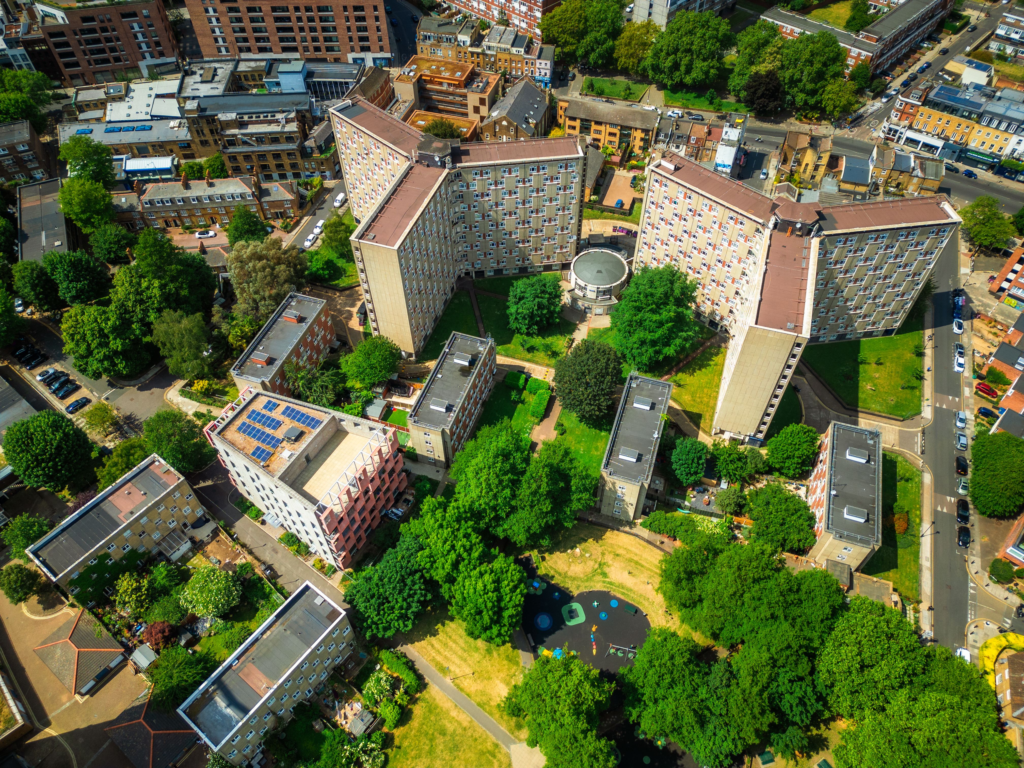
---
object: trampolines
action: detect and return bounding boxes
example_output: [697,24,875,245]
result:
[390,379,410,398]
[567,608,579,619]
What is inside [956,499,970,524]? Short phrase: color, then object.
black car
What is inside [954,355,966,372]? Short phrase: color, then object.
white vehicle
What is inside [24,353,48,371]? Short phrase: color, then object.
black car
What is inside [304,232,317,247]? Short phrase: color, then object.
white vehicle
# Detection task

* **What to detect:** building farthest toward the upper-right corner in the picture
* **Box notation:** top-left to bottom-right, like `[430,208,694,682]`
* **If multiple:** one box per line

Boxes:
[986,8,1024,59]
